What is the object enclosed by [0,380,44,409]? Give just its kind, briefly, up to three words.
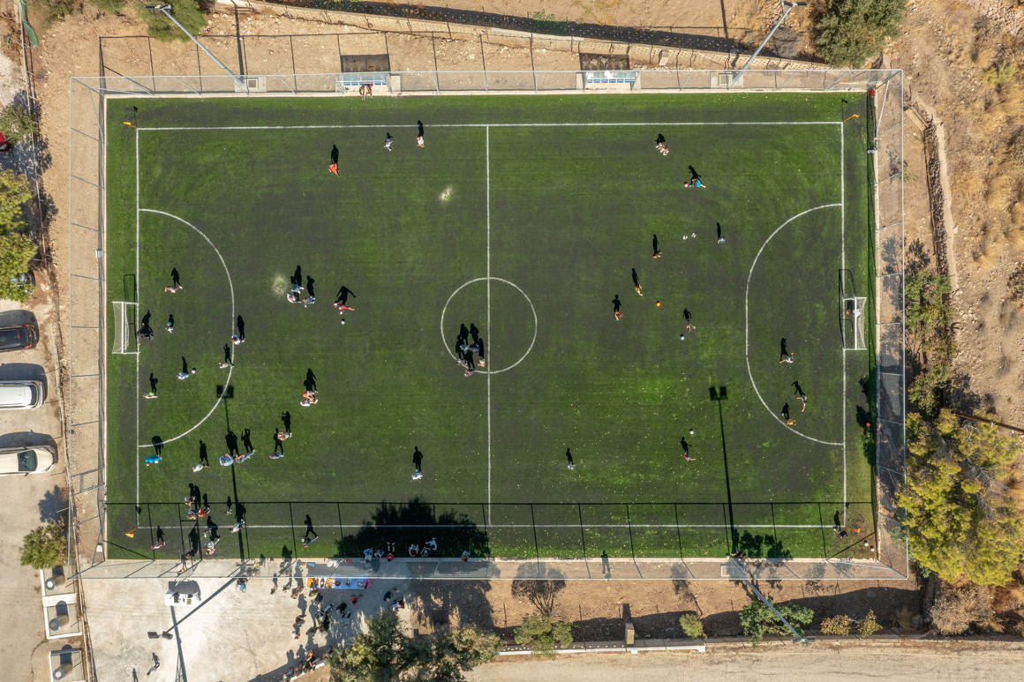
car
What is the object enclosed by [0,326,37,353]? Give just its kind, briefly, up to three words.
car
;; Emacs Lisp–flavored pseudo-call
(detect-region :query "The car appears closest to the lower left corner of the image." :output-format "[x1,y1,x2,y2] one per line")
[0,445,56,480]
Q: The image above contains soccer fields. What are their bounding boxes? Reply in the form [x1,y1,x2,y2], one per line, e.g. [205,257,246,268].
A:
[107,93,879,559]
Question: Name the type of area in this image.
sports ground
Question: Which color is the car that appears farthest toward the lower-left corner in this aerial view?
white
